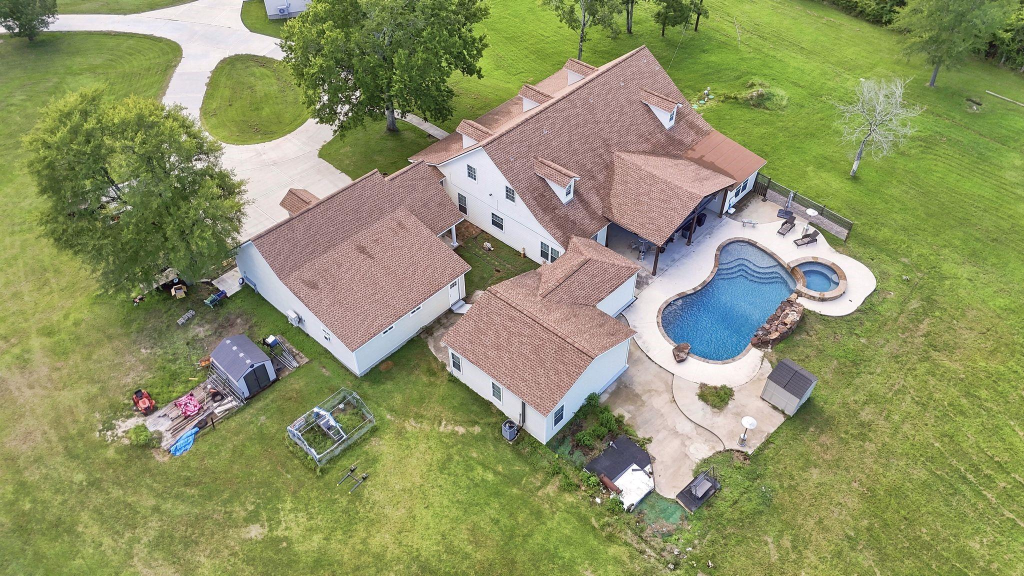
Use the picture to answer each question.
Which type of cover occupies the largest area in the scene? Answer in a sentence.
The bulk of the photo consists of grass.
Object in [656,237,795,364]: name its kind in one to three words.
swimming pool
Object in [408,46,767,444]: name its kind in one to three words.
house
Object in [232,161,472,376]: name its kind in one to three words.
building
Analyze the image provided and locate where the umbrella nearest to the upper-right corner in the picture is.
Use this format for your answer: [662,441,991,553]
[778,190,793,217]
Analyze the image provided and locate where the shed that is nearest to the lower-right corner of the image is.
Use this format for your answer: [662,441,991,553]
[761,358,817,414]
